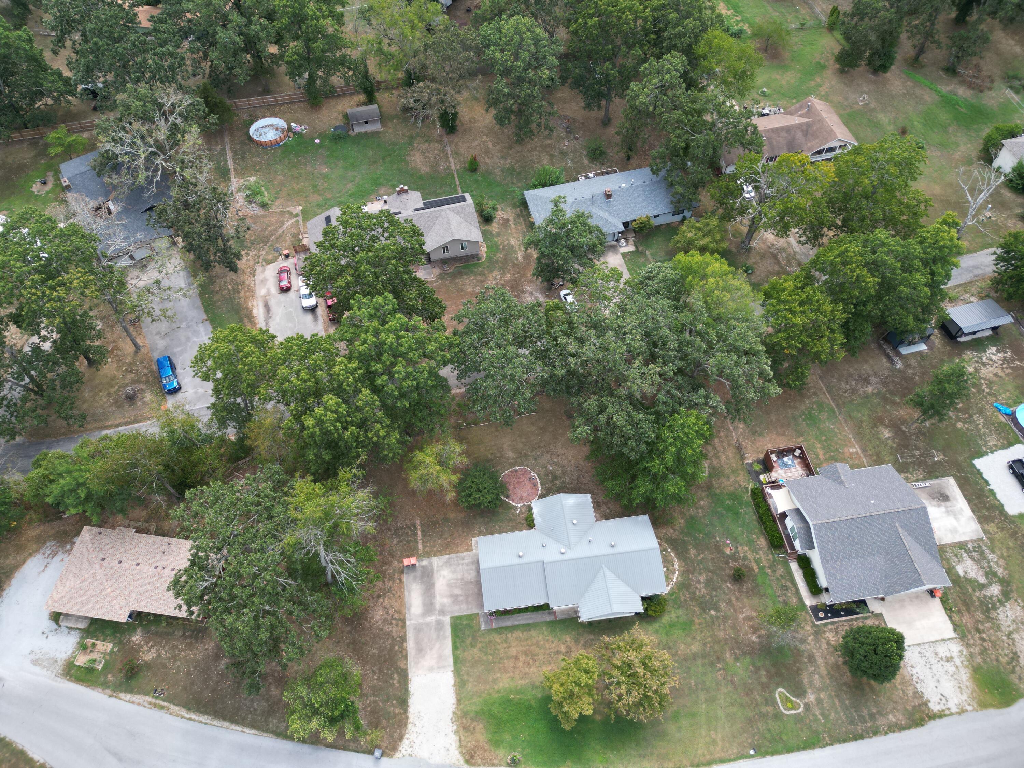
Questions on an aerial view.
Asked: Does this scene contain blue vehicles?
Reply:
Yes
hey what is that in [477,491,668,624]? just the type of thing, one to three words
house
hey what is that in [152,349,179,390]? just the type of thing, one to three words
truck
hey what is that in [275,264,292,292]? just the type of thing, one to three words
car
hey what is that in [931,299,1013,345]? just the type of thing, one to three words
shed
